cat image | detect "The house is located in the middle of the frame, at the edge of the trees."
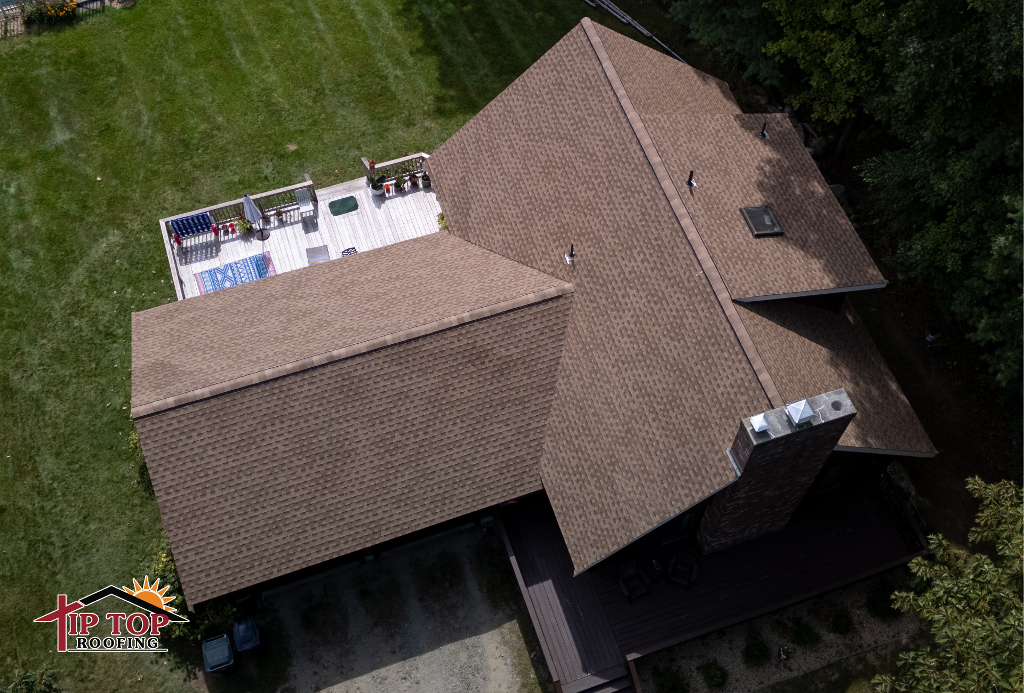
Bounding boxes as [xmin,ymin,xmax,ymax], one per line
[129,22,937,613]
